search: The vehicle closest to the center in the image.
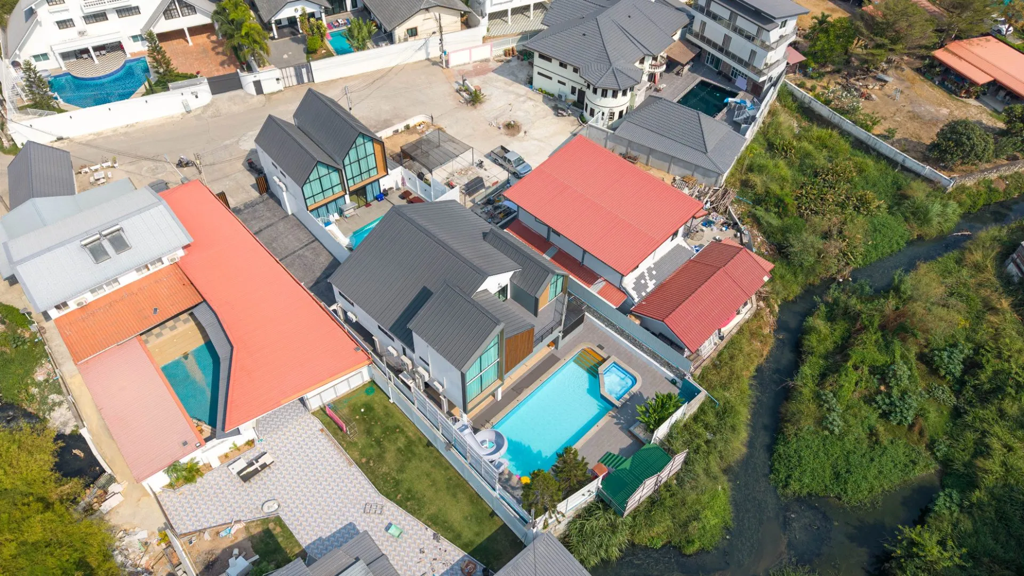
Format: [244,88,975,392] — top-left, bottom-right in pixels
[487,148,532,178]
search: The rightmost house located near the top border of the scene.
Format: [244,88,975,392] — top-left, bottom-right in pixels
[934,27,1024,104]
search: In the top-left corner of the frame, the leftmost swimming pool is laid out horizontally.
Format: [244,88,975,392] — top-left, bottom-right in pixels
[50,55,153,108]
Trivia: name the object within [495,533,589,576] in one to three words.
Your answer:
shed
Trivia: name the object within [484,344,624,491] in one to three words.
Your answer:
swimming pool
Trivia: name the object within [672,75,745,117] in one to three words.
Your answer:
swimming pool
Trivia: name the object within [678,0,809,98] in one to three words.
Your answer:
house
